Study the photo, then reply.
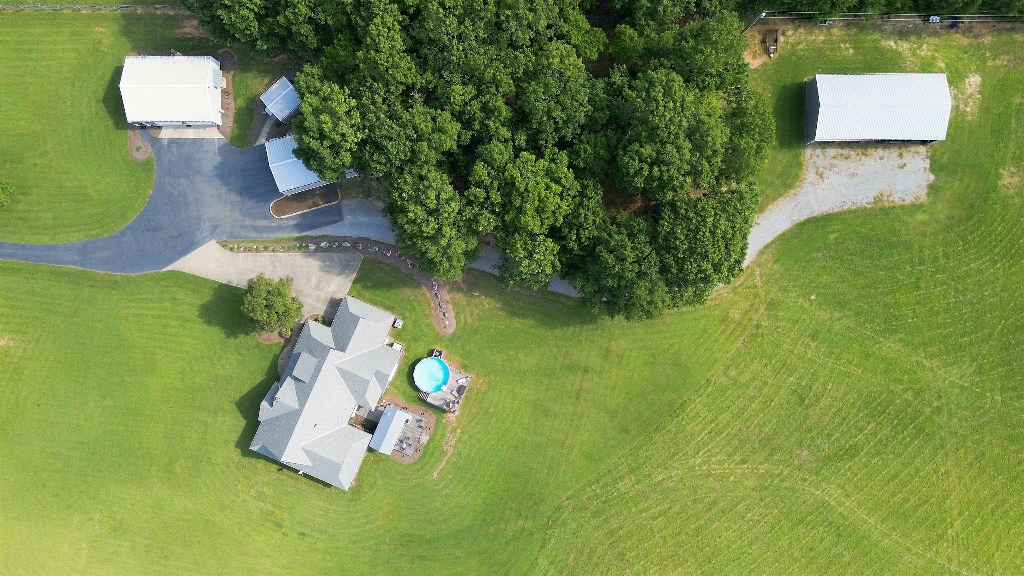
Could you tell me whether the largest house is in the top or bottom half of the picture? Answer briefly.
bottom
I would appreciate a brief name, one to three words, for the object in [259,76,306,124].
shed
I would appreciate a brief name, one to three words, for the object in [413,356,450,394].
swimming pool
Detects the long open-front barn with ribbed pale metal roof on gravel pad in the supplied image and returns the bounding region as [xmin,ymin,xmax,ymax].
[806,73,952,149]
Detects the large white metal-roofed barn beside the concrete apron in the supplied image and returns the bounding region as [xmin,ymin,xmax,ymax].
[119,54,228,130]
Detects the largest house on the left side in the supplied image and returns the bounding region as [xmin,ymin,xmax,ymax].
[250,294,402,492]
